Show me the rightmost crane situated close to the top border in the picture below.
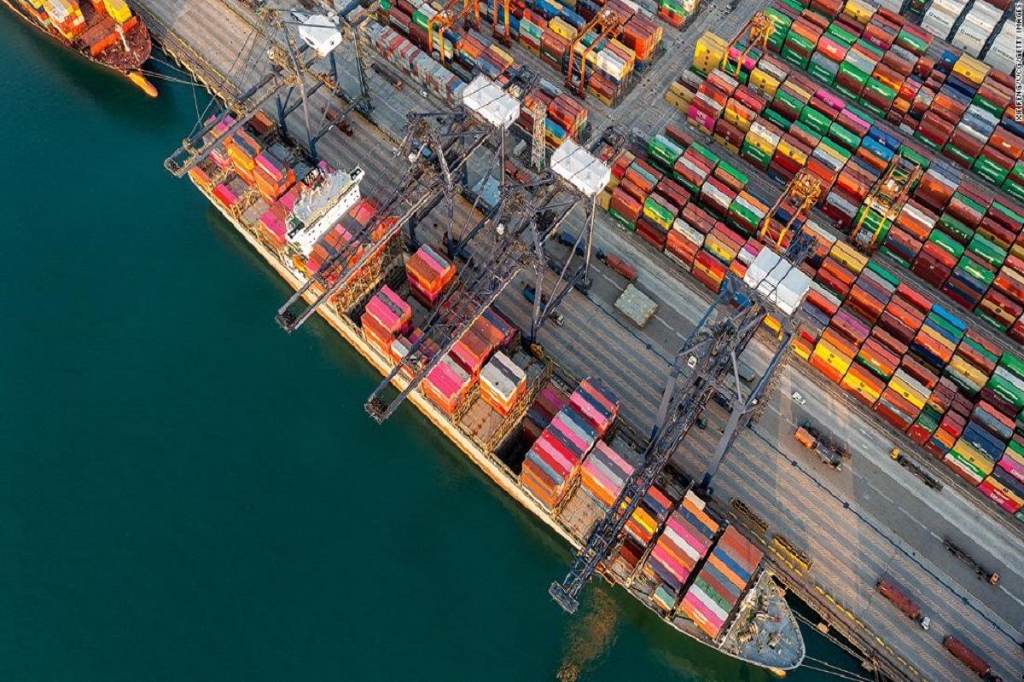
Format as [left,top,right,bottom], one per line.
[717,15,771,85]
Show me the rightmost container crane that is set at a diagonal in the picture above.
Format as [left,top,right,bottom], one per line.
[849,155,924,251]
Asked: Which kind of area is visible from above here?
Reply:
port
